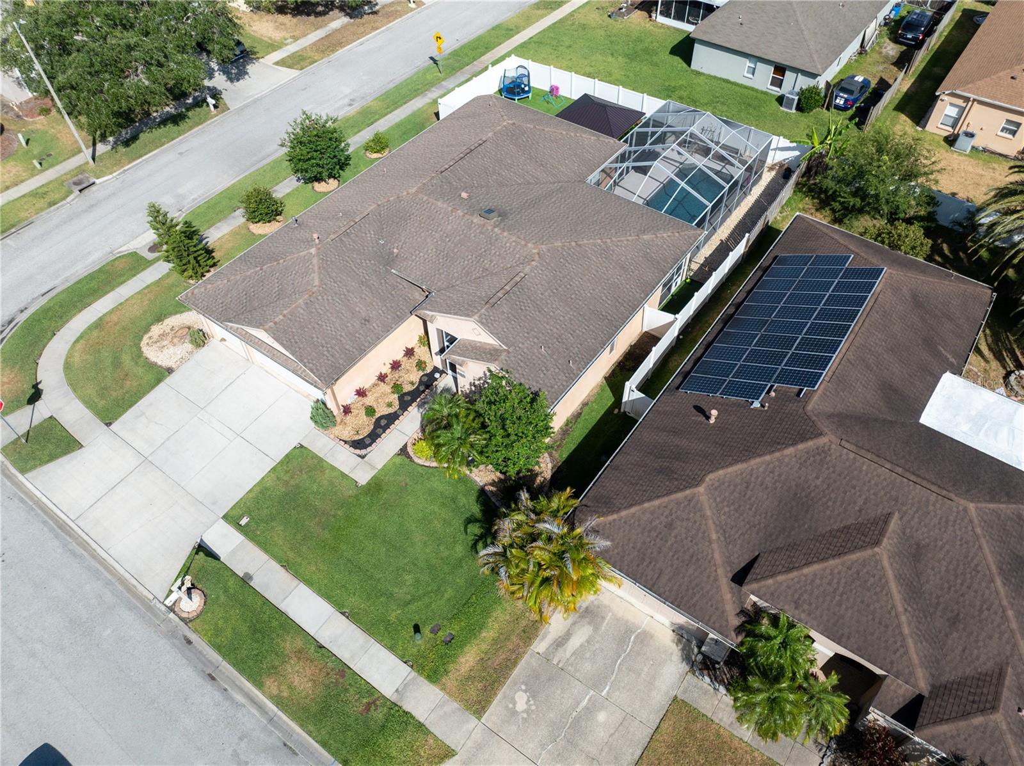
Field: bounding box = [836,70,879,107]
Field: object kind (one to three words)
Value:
car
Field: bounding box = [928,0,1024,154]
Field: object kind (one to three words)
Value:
house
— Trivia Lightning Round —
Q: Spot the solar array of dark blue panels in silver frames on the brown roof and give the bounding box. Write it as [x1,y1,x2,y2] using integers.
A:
[682,254,882,407]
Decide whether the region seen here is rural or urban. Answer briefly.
urban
